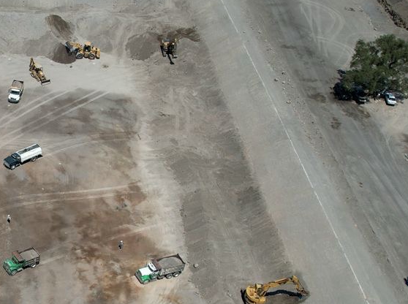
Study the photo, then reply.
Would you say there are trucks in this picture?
Yes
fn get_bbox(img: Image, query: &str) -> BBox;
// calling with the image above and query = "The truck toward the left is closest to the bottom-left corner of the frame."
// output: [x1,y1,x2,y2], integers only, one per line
[1,242,42,274]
